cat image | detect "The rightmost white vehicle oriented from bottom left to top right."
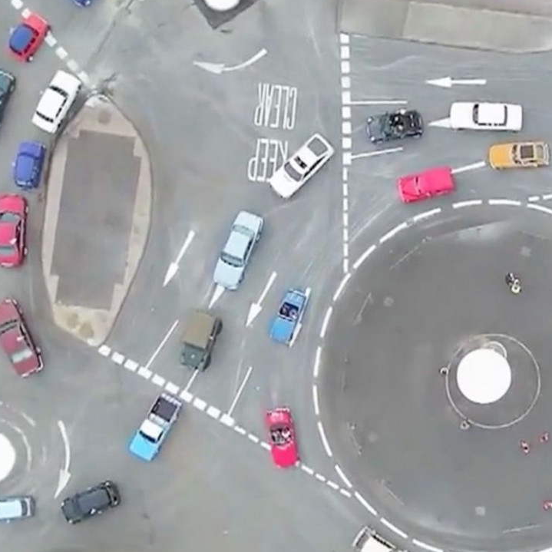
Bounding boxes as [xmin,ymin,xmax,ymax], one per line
[270,134,334,199]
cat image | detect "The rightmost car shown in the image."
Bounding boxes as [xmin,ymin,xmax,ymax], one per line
[489,136,550,168]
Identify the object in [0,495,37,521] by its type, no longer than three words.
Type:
car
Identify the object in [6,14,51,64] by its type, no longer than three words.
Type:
car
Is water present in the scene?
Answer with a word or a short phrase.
No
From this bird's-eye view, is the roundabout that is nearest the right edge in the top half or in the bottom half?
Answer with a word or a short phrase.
bottom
